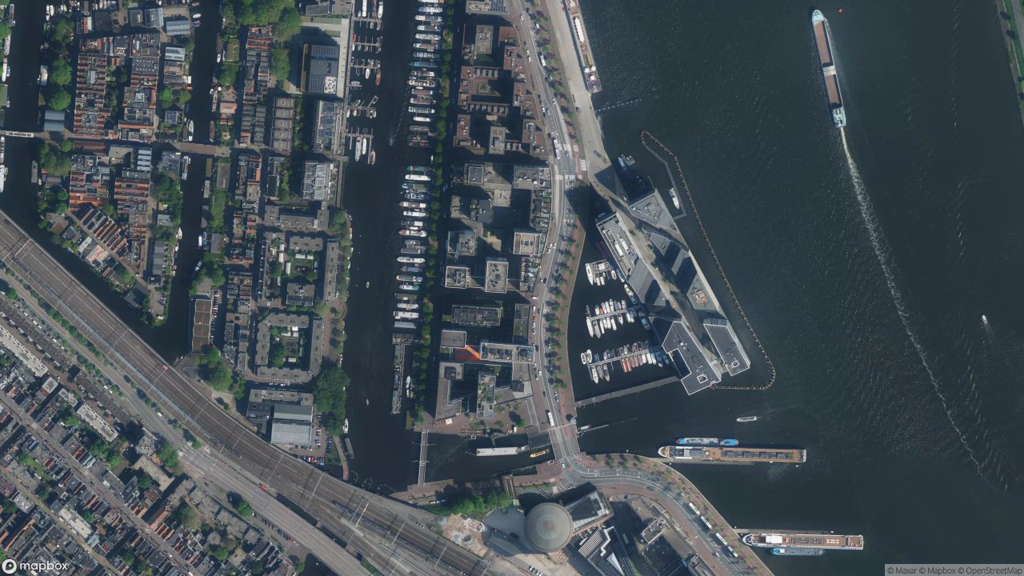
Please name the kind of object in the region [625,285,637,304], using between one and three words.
boat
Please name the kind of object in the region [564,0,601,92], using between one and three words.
ship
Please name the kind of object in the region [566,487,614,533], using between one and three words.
building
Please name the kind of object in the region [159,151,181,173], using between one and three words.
building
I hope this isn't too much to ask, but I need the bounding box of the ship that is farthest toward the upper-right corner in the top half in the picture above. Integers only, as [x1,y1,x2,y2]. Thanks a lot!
[811,9,845,128]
